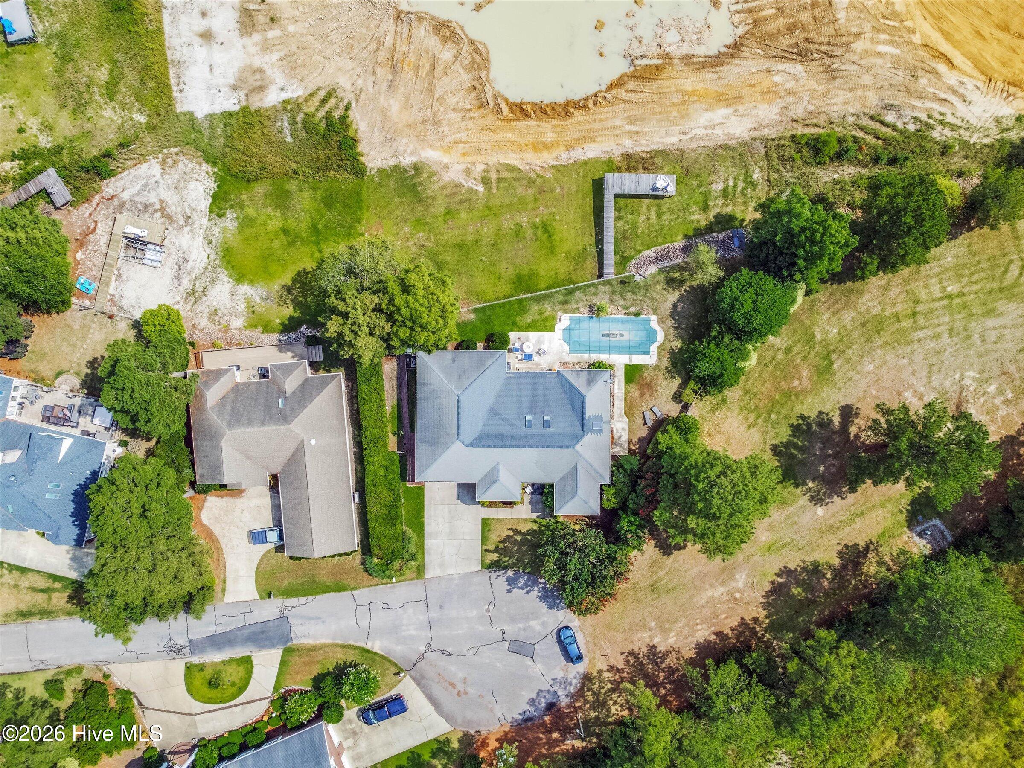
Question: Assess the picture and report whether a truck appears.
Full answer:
Yes, I can see a truck in this picture.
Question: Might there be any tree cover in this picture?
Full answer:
Yes, there is tree cover in the image.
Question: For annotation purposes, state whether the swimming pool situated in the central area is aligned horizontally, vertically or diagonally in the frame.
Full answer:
I'd say the swimming pool situated in the central area is aligned horizontally in the picture.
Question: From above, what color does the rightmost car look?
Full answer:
In this view, the rightmost car is blue.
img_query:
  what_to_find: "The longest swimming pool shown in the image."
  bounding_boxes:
[561,315,659,356]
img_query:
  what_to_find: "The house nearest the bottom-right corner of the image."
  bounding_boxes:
[415,350,611,516]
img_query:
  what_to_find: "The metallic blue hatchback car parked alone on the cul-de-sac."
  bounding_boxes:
[559,627,587,672]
